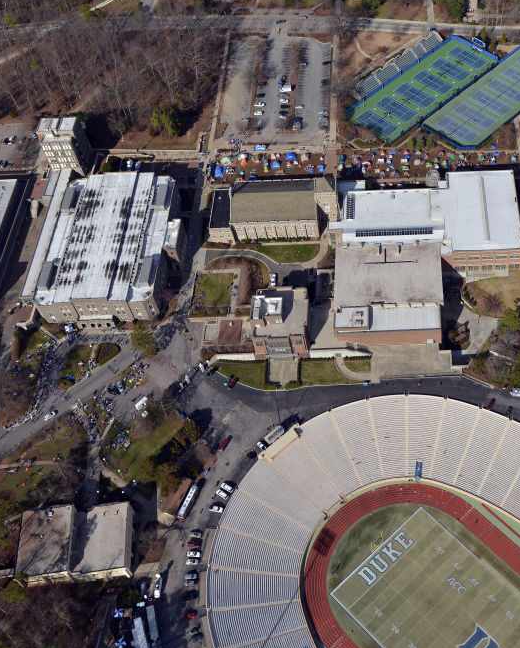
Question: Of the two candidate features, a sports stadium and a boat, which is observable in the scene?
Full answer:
There is a sports stadium in the scene.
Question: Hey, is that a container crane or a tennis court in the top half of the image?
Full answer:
Looking in the top half of the image, you will find a tennis court.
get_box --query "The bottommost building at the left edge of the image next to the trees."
[15,502,136,586]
